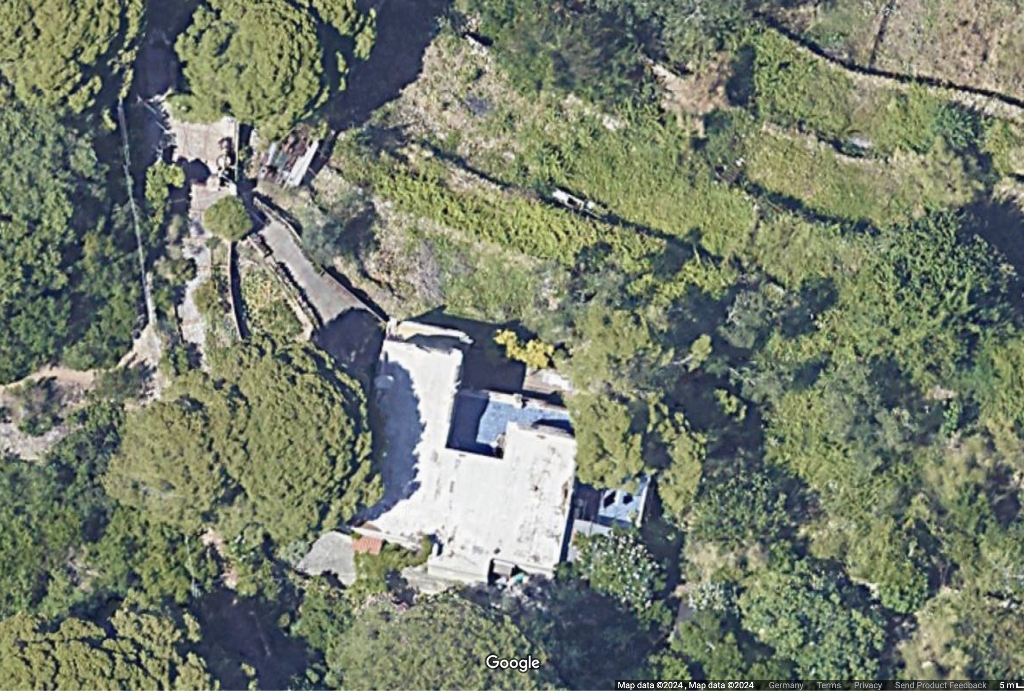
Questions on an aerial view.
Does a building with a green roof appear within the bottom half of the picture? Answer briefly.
No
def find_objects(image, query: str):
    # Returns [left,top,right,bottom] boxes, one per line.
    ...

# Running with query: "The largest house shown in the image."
[358,339,576,583]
